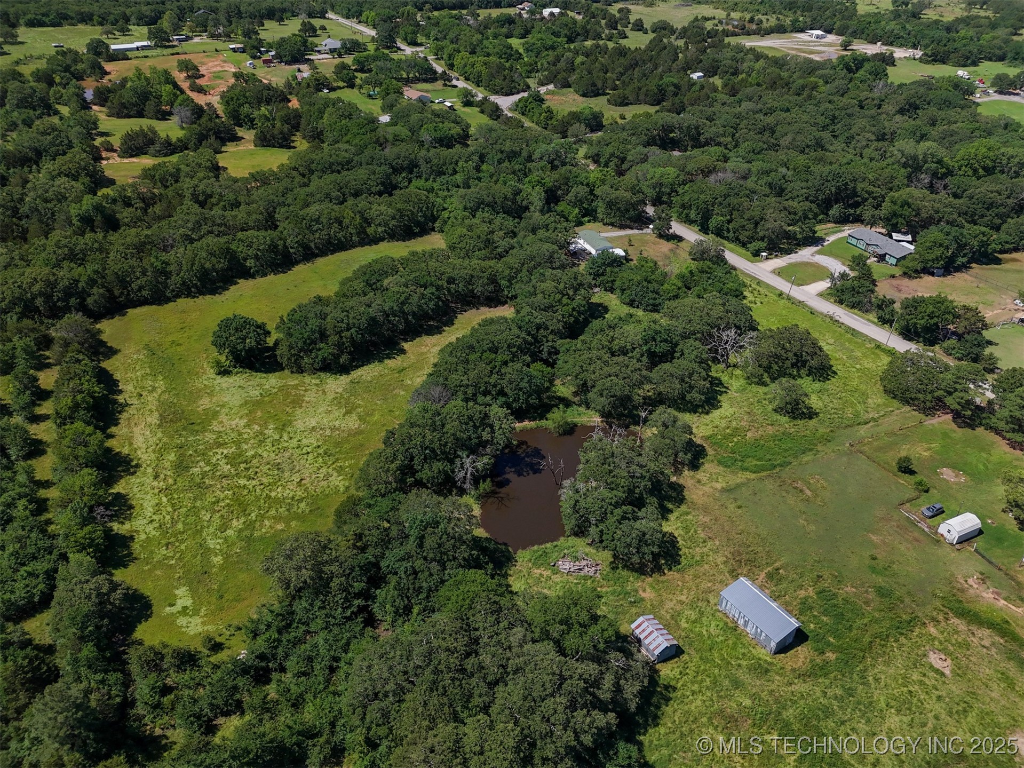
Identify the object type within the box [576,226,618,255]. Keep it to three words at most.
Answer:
house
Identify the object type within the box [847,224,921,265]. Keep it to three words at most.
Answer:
building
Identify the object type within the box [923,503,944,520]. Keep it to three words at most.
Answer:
car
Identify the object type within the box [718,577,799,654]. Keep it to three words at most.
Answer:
barn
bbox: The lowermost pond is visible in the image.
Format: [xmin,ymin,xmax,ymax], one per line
[474,426,640,551]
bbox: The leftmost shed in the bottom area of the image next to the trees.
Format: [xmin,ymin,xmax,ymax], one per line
[632,615,678,662]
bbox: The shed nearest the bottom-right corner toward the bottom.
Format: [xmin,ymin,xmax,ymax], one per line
[938,508,985,544]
